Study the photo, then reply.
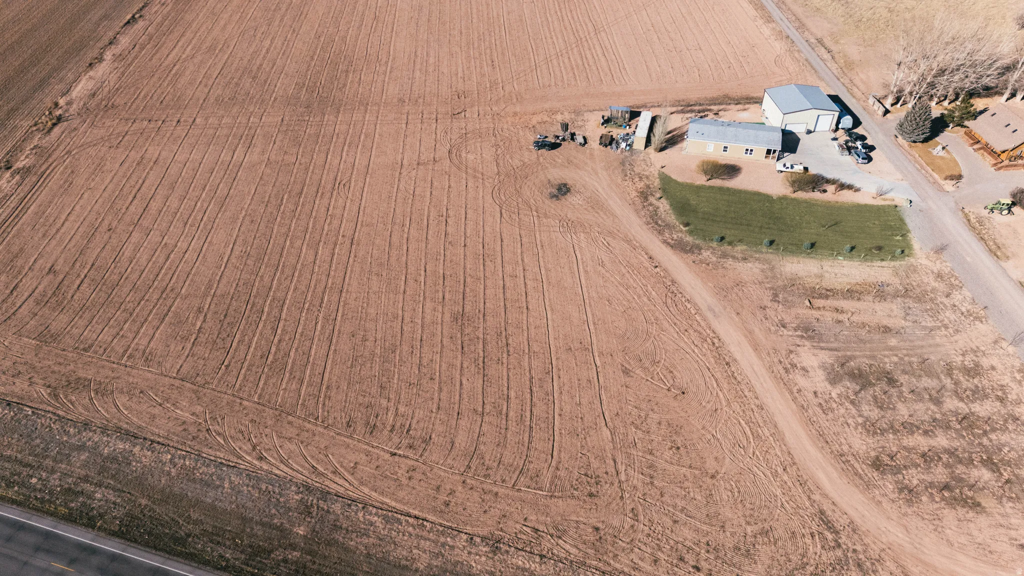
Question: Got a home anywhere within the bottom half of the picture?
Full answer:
No, no home appears within the bottom half of the picture.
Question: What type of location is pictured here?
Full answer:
The area seen from above is farmland.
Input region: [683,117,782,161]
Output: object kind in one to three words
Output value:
house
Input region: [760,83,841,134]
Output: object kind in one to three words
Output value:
building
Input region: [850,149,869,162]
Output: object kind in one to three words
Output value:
vehicle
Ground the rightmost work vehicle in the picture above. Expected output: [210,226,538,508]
[987,199,1012,216]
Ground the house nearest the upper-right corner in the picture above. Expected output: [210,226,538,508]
[962,103,1024,174]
